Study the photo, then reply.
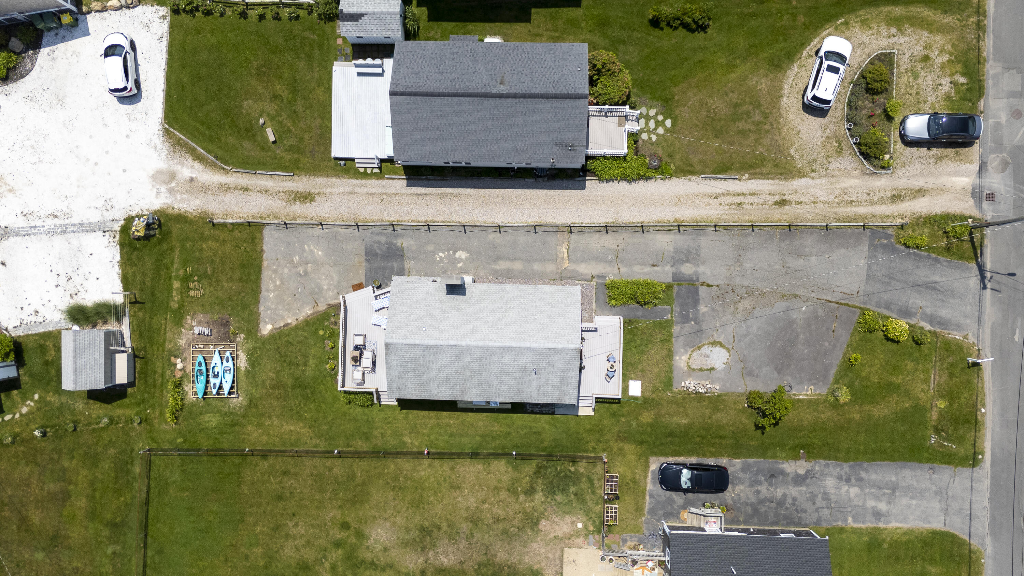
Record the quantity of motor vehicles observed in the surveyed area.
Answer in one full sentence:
The photo contains 4 motor vehicles.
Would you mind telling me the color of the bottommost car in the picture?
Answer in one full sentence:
The bottommost car looks black in the image.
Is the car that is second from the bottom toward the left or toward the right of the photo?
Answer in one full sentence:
The car that is second from the bottom appears in the right half of the scene.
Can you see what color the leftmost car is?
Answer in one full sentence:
The leftmost car is white.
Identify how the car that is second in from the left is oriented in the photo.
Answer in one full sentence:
What the image shows is the car that is second in from the left lying from left to right.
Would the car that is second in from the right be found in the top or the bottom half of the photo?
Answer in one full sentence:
It is in the top half that the car that is second in from the right appears.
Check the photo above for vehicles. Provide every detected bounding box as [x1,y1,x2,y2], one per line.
[95,31,138,96]
[898,110,984,146]
[803,37,850,113]
[657,459,731,496]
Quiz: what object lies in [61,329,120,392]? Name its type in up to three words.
shed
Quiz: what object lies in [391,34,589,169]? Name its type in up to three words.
house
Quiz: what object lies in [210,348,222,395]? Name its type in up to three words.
boat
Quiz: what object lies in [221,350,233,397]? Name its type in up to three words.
boat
